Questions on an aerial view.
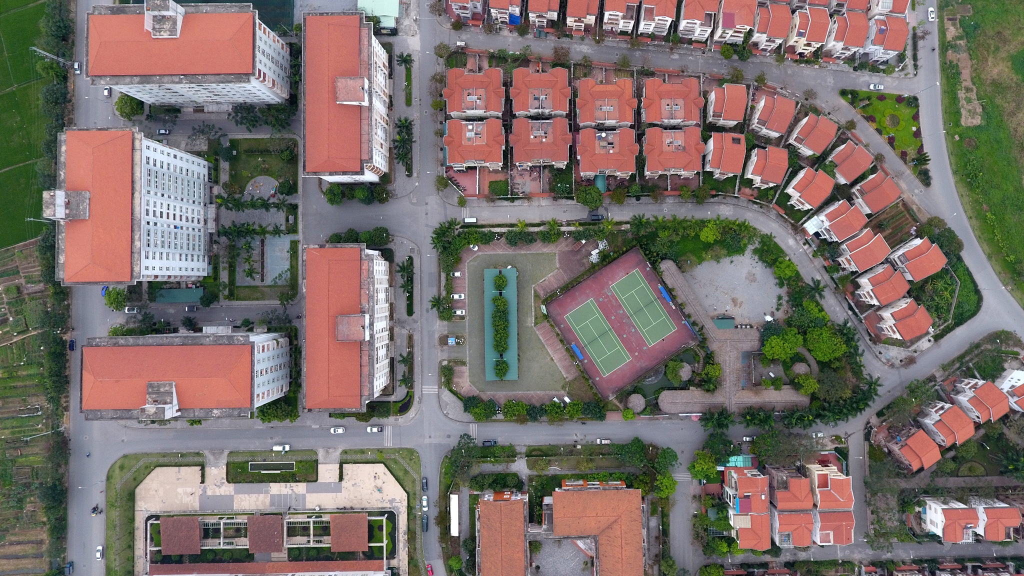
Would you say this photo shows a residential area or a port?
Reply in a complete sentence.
The picture captures a residential area.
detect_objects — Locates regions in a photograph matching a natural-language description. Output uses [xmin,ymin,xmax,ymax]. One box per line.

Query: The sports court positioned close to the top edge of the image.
[215,0,293,33]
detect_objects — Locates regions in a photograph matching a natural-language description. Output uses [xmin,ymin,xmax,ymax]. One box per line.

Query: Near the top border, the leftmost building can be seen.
[83,0,287,118]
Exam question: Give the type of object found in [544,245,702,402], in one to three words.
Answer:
tennis court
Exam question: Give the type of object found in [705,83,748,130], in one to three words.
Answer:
house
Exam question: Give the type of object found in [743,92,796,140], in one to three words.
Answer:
house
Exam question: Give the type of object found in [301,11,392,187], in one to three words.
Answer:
building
